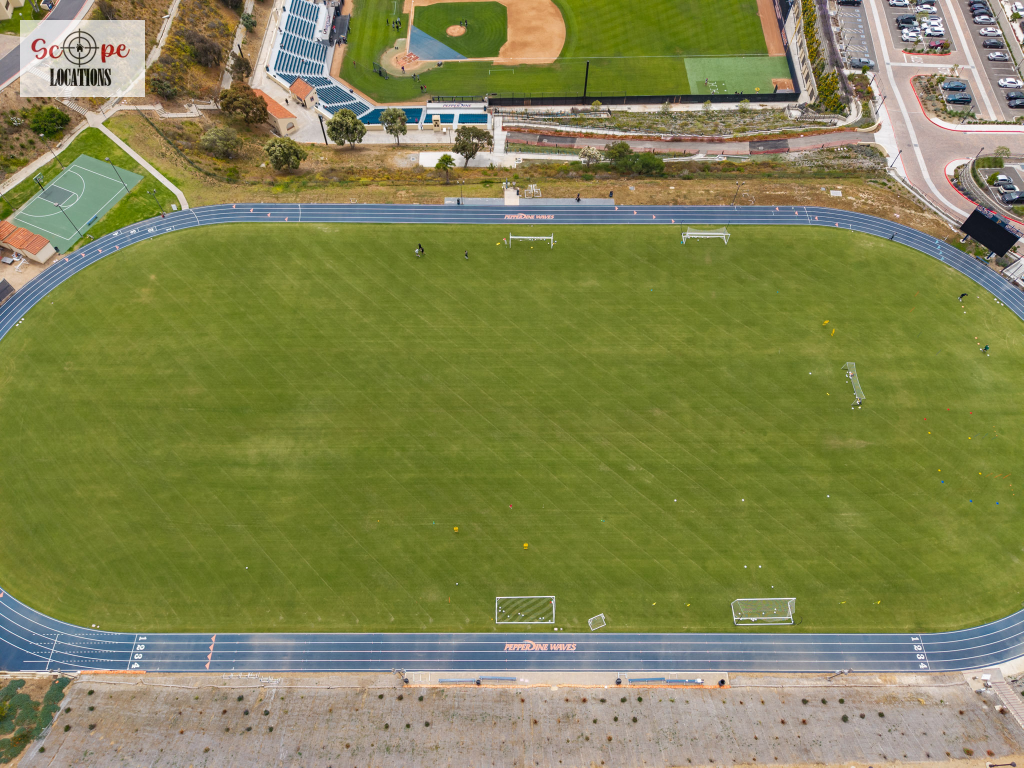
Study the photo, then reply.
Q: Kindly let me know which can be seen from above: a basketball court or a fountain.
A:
basketball court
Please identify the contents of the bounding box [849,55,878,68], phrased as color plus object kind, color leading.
gray vehicle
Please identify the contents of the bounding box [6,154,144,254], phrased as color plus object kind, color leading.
green basketball court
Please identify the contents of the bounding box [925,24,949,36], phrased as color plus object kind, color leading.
white vehicle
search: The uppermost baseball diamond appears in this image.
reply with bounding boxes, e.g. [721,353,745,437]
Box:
[332,0,794,104]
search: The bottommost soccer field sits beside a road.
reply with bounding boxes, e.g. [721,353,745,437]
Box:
[0,222,1024,632]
